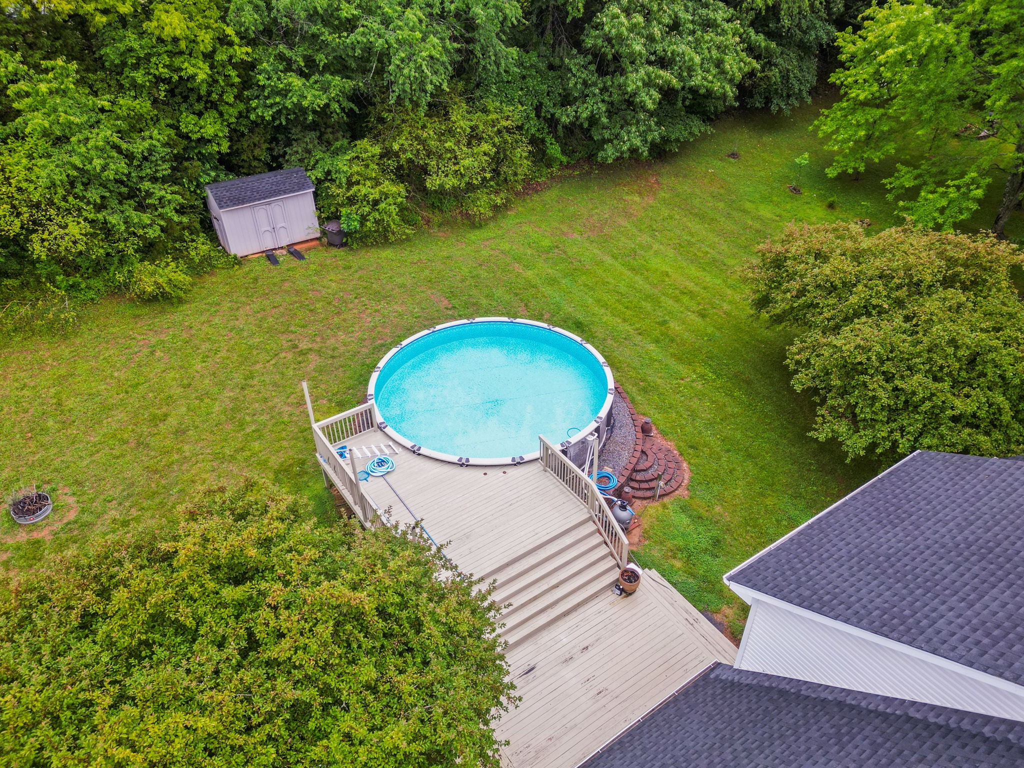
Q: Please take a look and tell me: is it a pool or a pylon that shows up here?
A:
pool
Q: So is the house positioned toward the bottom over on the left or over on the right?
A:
right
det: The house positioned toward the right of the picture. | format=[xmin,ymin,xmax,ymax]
[565,437,1024,768]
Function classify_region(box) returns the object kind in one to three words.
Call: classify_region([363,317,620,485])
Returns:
swimming pool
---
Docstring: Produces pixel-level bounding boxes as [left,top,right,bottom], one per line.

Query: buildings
[565,437,1024,768]
[200,166,320,261]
